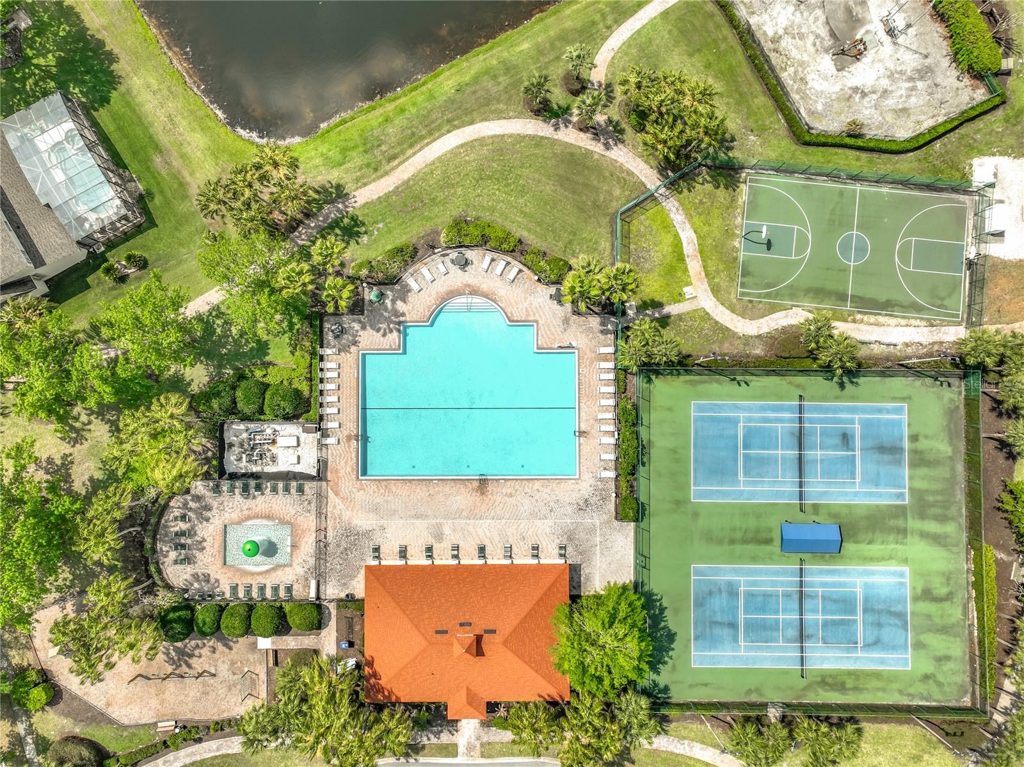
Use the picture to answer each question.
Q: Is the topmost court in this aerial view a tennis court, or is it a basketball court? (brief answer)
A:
basketball court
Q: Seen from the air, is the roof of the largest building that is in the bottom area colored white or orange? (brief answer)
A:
orange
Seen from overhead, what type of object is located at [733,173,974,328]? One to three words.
basketball court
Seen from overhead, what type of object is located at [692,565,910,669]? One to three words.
tennis court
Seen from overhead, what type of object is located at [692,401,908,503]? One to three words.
tennis court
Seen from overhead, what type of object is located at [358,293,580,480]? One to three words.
swimming pool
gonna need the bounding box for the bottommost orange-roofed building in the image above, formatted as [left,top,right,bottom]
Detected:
[364,559,570,719]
